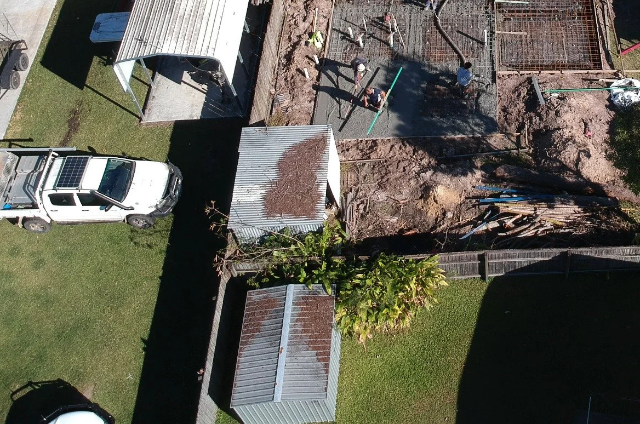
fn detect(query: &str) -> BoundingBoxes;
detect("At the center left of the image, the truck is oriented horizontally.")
[0,144,187,236]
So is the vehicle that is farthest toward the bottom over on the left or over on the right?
left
